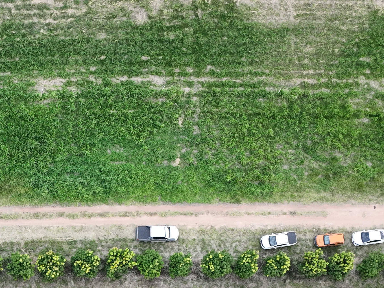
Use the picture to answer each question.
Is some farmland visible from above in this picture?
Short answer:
Yes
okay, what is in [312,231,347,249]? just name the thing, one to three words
car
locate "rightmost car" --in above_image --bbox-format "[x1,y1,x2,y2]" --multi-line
[349,229,384,248]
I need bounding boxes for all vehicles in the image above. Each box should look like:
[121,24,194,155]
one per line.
[312,231,347,249]
[135,224,178,243]
[258,230,298,250]
[349,229,384,248]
